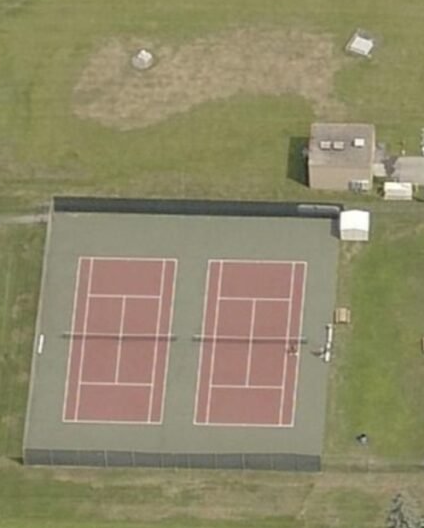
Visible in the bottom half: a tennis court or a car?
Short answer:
tennis court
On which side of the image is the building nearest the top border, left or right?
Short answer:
right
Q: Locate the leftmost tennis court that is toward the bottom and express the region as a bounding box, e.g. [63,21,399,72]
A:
[63,257,177,424]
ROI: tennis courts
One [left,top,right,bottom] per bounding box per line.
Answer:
[63,257,177,424]
[194,260,307,427]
